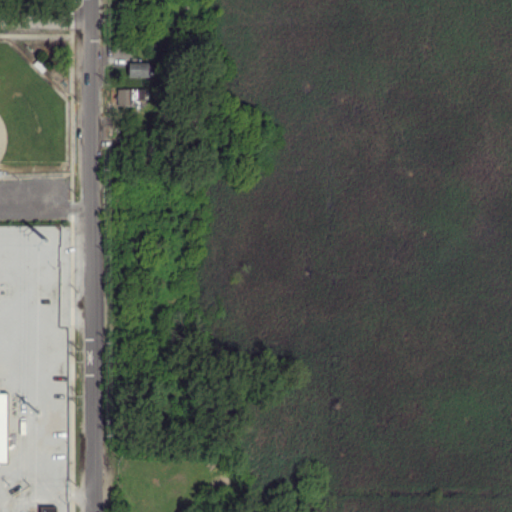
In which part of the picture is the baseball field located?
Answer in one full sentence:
The baseball field sits in the top left section of the image.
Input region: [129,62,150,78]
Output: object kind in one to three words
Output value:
house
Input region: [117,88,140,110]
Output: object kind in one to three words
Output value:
house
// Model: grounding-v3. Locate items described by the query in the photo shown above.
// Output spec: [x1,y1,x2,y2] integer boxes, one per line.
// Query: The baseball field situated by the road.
[0,40,69,175]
